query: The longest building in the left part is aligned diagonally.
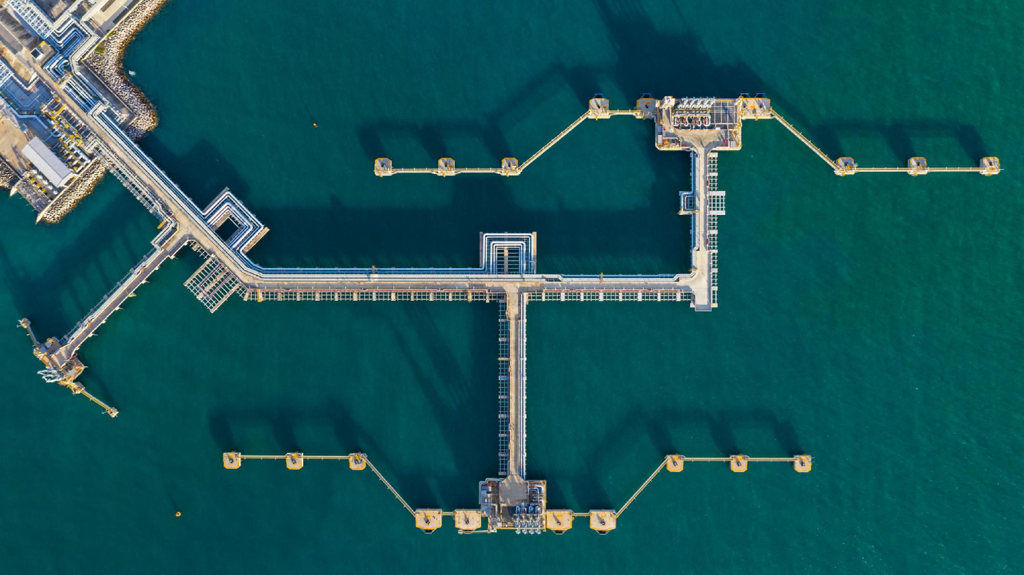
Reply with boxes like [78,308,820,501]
[22,137,77,188]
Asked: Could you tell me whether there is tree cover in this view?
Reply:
No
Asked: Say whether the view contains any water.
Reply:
Yes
